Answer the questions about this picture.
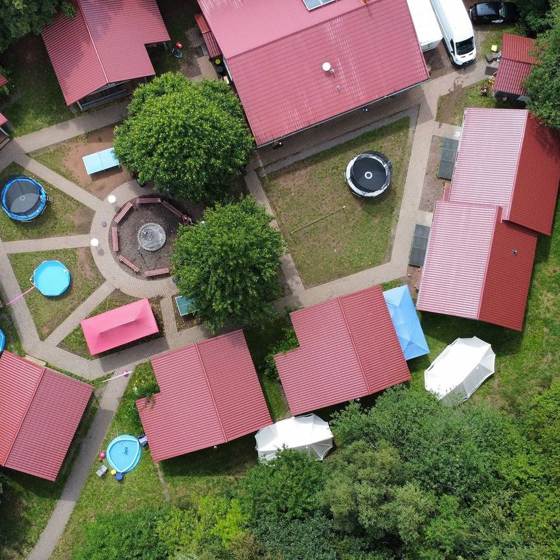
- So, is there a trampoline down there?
Yes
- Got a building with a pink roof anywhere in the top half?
Yes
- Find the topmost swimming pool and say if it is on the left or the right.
left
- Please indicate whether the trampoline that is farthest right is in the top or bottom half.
top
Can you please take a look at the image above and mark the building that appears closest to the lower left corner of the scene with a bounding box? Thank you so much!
[0,347,95,480]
